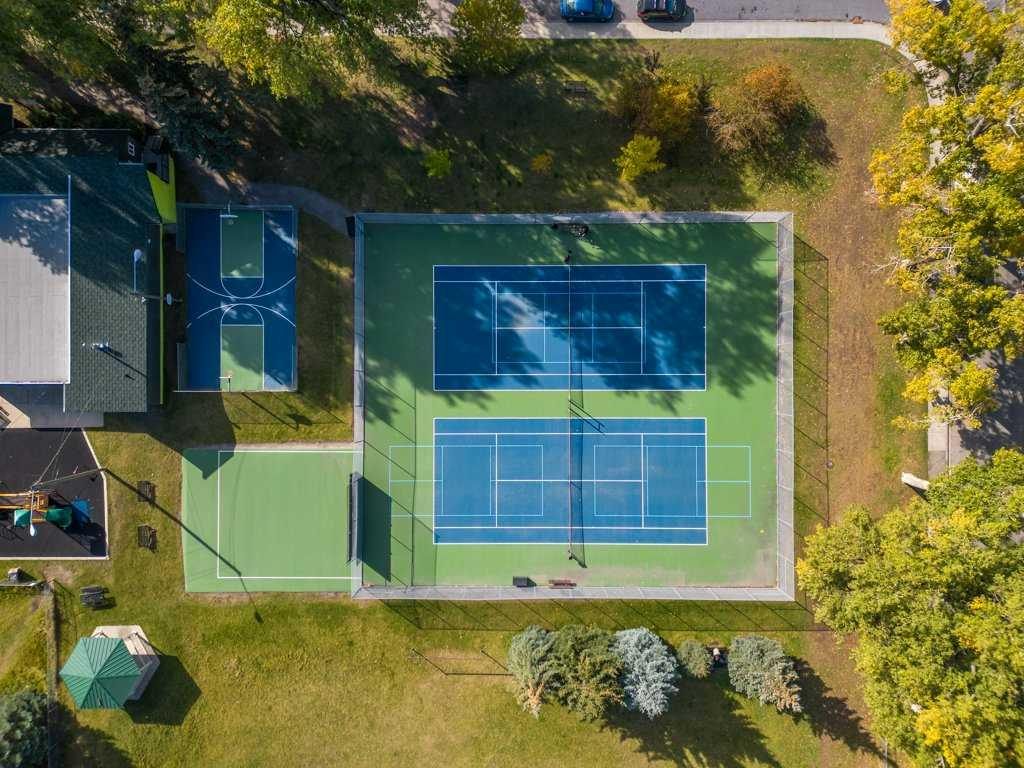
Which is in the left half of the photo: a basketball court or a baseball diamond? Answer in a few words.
basketball court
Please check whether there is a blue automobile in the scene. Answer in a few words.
Yes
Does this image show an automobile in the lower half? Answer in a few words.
No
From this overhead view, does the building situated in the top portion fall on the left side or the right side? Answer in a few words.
left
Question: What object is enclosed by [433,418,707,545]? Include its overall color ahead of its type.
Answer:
blue tennis court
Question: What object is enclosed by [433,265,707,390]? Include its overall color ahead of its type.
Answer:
blue tennis court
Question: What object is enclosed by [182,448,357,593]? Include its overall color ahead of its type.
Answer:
green sports court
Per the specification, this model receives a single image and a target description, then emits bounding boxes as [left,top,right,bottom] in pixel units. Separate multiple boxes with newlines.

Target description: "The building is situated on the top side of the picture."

[0,104,188,412]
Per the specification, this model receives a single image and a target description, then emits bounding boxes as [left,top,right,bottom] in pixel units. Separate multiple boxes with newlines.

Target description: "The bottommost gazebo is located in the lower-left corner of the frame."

[57,627,159,712]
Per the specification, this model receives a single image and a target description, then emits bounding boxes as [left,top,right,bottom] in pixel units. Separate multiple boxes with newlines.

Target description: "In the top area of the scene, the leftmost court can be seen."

[184,207,297,391]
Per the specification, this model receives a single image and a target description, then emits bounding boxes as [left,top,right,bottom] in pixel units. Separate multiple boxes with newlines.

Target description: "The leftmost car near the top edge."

[560,0,613,23]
